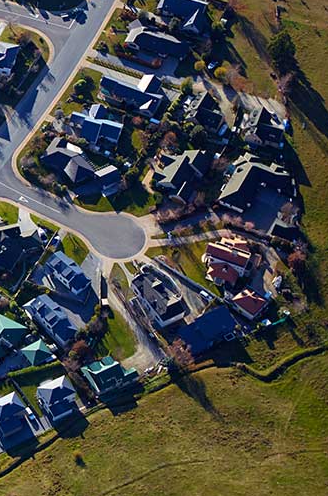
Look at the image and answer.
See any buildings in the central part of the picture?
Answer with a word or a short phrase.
Yes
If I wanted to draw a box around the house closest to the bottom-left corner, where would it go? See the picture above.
[0,390,36,445]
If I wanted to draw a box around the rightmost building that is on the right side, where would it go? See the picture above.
[272,217,300,245]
